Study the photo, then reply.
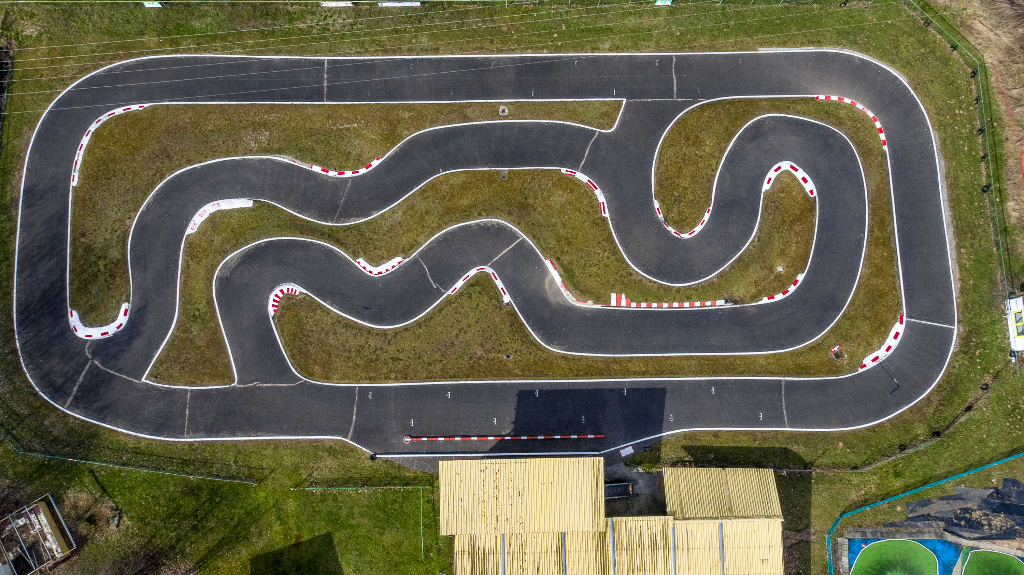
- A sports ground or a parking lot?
sports ground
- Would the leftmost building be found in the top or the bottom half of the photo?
bottom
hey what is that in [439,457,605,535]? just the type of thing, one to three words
building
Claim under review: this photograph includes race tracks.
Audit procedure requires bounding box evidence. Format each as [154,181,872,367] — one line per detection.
[13,49,957,474]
